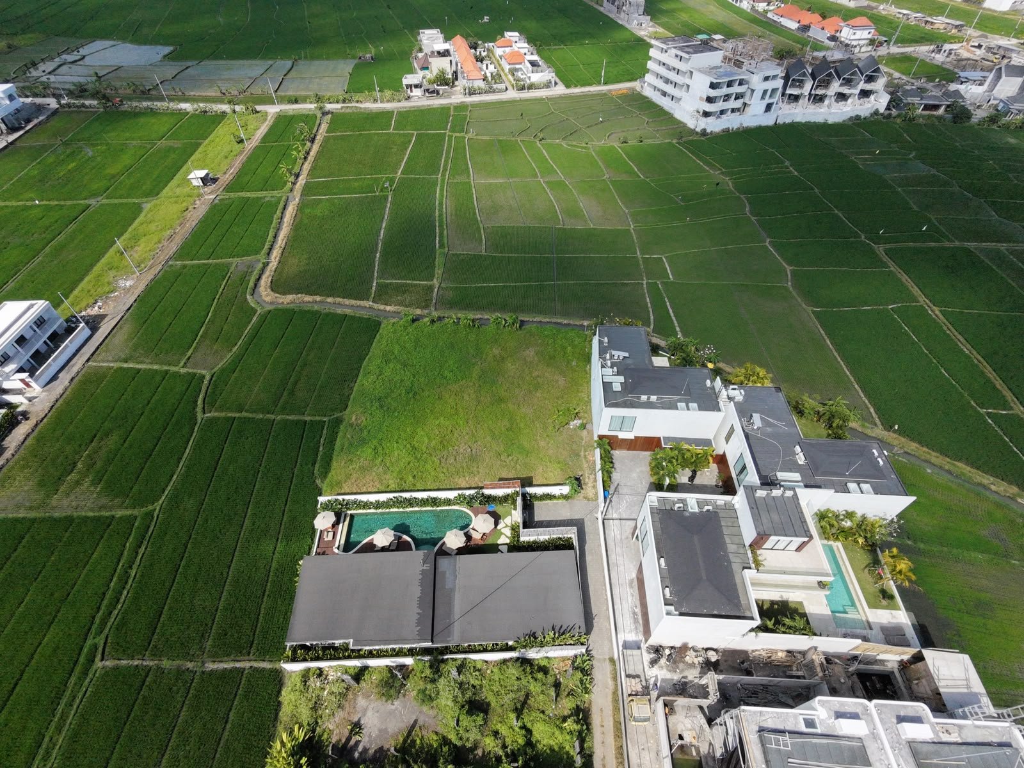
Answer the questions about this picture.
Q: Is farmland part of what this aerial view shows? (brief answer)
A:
Yes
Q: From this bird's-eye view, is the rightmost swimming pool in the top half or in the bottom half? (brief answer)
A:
bottom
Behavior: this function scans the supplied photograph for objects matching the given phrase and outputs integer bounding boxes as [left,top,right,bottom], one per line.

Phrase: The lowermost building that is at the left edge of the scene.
[0,301,72,407]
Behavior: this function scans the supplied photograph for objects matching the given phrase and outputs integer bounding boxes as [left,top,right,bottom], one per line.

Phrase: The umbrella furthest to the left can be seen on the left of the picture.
[315,511,337,531]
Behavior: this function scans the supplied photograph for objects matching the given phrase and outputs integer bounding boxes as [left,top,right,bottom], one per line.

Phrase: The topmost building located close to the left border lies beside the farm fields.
[0,84,33,133]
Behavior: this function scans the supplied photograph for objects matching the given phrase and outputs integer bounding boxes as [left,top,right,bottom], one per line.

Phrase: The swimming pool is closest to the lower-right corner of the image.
[821,539,876,631]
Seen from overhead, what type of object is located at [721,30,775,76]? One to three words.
building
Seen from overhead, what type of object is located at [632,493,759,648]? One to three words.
house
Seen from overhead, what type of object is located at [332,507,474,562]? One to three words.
swimming pool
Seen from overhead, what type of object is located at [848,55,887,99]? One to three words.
house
